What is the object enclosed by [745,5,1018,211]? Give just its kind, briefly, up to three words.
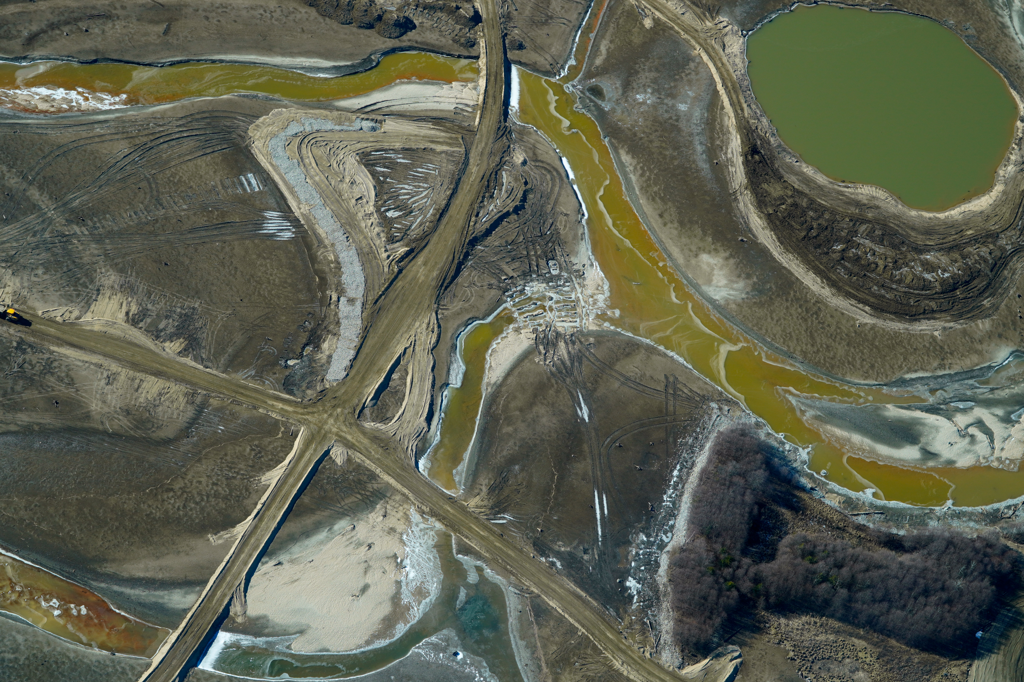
pond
